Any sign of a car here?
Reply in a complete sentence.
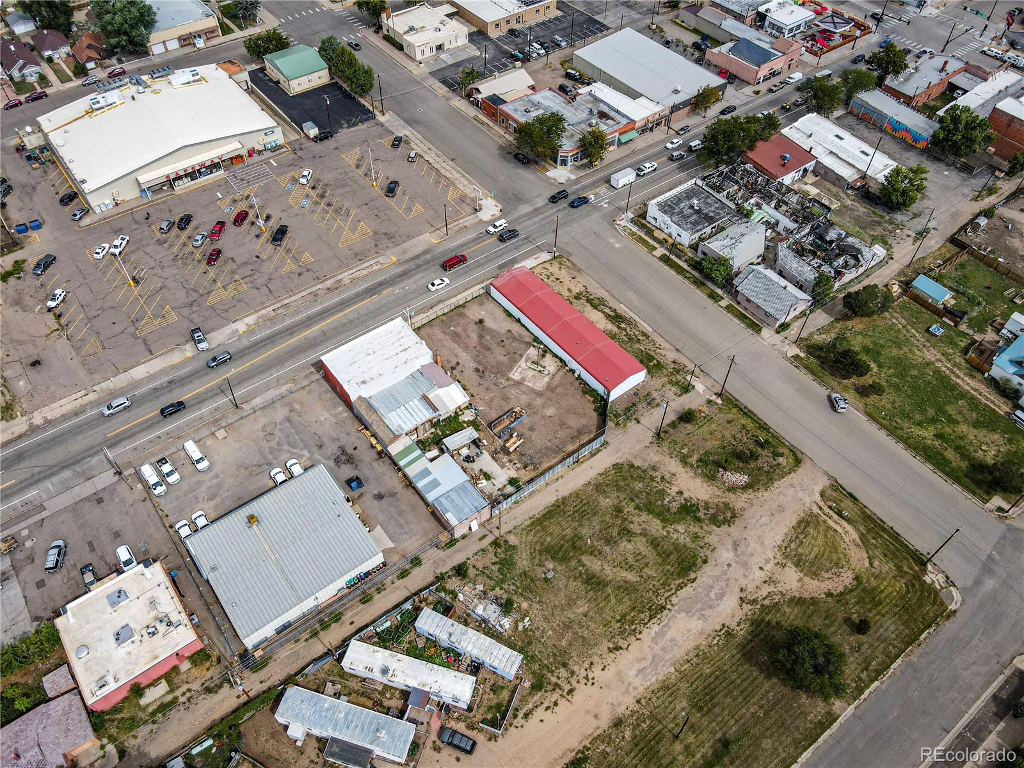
Yes, the picture does show a car.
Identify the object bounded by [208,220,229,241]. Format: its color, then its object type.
red truck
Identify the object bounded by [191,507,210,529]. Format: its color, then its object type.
white vehicle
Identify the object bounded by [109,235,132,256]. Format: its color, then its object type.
white truck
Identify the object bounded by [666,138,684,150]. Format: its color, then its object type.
white vehicle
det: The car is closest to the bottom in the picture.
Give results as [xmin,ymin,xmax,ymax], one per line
[438,726,478,755]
